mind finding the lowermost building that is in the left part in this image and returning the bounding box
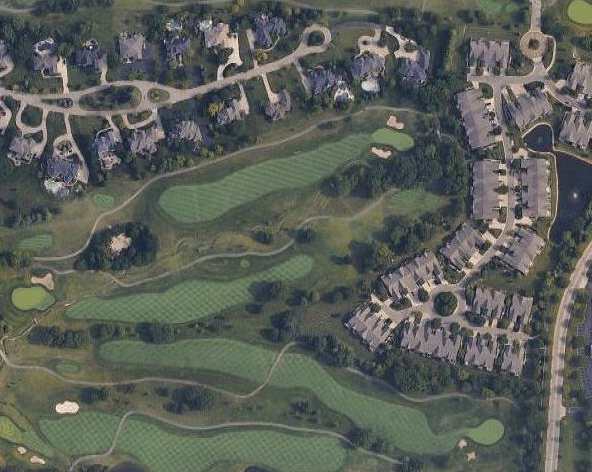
[42,152,82,183]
